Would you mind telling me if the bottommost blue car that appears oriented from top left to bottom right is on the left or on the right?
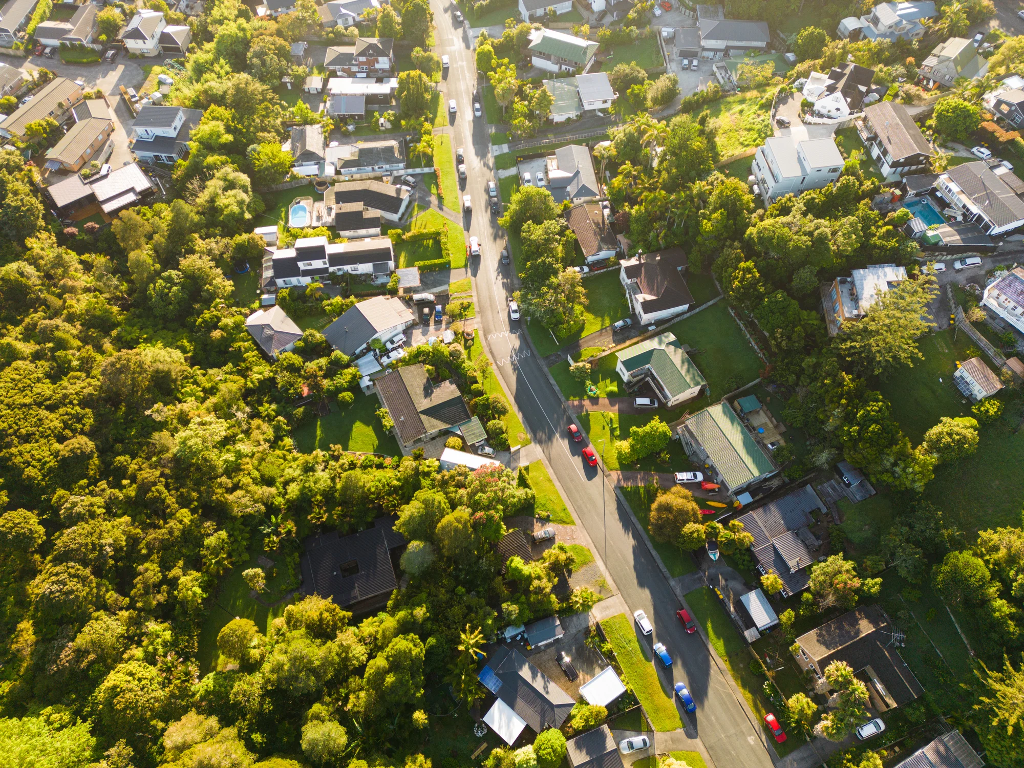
right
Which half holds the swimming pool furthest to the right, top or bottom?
top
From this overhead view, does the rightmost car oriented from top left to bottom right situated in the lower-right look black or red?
red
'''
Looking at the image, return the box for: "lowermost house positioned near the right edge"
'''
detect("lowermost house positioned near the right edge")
[894,729,985,768]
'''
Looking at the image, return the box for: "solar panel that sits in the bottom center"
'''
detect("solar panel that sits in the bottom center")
[478,666,502,694]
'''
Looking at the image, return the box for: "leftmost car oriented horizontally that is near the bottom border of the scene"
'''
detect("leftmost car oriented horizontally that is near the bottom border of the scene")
[620,736,649,751]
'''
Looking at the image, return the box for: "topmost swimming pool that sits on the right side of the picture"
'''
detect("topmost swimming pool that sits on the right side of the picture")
[902,192,948,228]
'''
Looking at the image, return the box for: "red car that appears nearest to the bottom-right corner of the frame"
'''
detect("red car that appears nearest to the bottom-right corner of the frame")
[763,713,786,742]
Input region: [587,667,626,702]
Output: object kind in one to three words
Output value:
building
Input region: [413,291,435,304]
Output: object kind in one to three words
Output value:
vehicle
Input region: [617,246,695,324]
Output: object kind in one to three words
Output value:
house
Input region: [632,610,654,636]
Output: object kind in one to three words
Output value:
car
